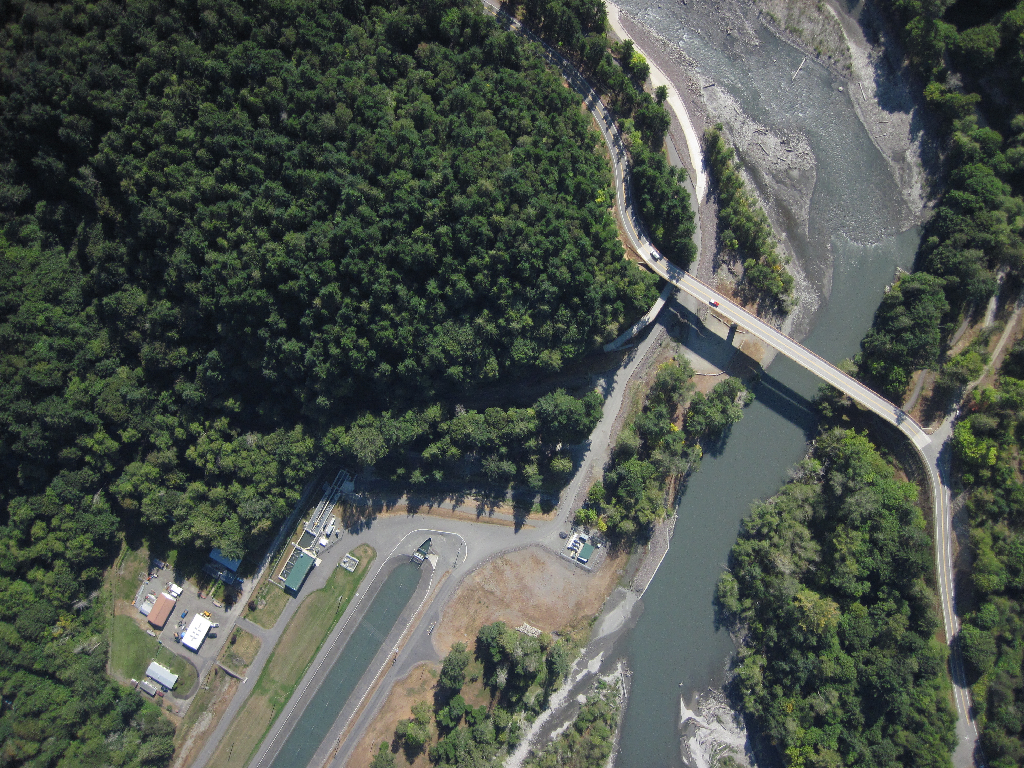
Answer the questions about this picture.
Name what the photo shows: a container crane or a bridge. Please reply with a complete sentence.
The image shows a bridge.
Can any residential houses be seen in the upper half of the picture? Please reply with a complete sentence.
No, no residential house is visible in the upper half of the picture.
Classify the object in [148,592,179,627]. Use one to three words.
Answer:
shed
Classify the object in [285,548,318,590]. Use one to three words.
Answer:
building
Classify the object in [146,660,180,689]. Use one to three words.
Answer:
house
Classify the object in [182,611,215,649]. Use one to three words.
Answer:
building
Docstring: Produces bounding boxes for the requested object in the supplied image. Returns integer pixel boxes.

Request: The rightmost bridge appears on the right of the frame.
[637,242,933,449]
